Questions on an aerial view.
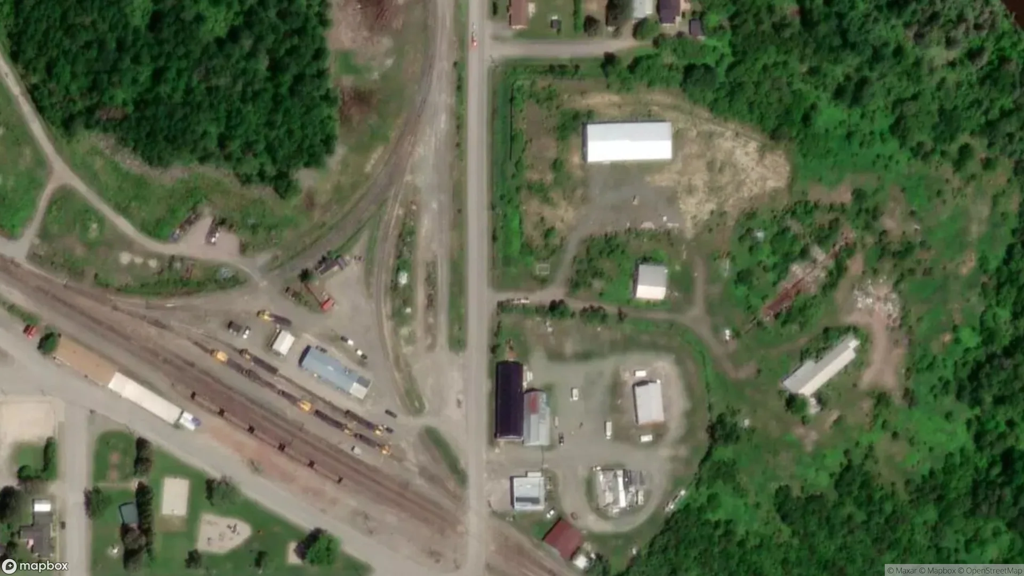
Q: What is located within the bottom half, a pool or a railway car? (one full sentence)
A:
There is a railway car within the bottom half.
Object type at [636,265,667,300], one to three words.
shed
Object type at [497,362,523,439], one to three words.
barn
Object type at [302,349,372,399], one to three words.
building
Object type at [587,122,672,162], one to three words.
building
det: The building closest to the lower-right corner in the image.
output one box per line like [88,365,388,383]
[783,337,860,396]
